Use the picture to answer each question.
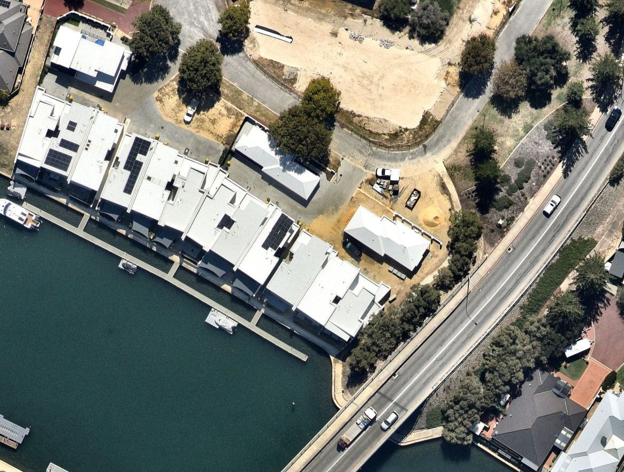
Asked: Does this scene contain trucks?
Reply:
Yes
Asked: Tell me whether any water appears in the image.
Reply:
Yes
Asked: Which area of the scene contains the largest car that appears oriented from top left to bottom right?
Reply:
center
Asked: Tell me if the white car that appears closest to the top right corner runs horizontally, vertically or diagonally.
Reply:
diagonally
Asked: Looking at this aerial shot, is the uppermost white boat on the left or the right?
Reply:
left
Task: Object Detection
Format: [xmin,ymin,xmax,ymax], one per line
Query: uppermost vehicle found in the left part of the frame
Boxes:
[185,94,205,125]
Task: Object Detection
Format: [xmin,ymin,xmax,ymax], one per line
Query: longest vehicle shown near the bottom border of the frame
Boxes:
[337,406,379,451]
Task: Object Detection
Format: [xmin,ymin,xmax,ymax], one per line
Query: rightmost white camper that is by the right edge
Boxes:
[567,336,594,361]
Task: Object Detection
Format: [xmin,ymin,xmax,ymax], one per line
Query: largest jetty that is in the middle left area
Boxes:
[21,202,308,362]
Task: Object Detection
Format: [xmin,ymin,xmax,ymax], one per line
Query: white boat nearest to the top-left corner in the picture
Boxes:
[0,200,43,232]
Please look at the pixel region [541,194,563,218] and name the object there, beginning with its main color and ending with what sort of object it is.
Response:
white car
